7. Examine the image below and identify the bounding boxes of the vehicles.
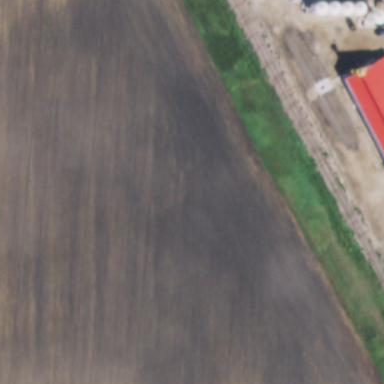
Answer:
[374,27,384,34]
[344,16,356,30]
